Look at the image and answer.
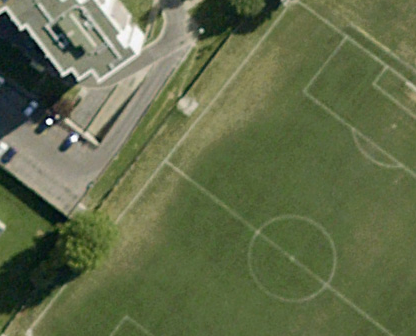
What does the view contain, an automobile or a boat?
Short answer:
automobile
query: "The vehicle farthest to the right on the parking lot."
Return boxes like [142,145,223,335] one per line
[60,134,77,152]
